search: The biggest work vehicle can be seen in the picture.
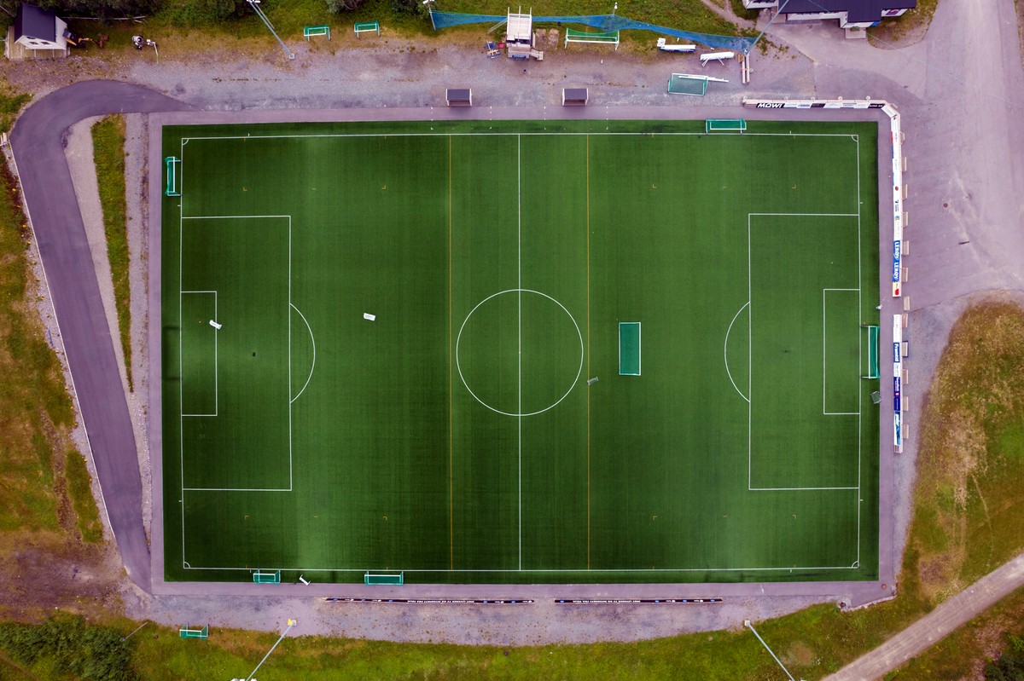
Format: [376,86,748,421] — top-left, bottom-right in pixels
[62,29,99,48]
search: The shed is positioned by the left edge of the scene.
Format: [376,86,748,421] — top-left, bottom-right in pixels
[7,4,70,58]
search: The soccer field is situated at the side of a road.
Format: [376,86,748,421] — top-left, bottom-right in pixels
[162,112,880,585]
